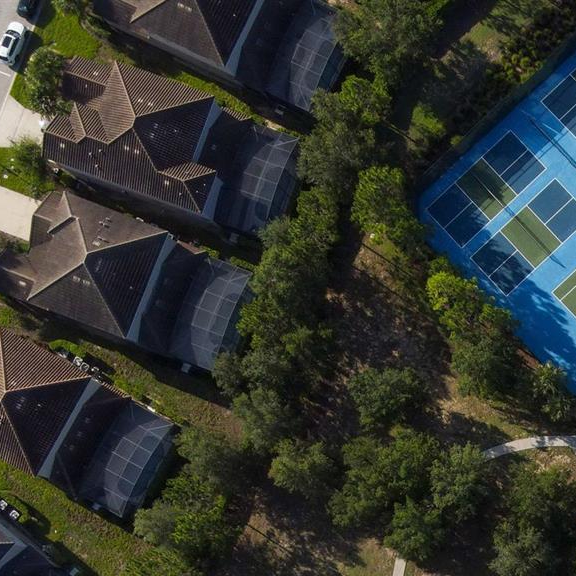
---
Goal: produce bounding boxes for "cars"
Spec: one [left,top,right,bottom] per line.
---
[16,0,42,21]
[0,21,27,67]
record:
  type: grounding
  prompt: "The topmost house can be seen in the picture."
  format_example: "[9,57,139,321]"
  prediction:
[91,0,354,124]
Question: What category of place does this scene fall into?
residential area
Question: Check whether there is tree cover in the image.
Yes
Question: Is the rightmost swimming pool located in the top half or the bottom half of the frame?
top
